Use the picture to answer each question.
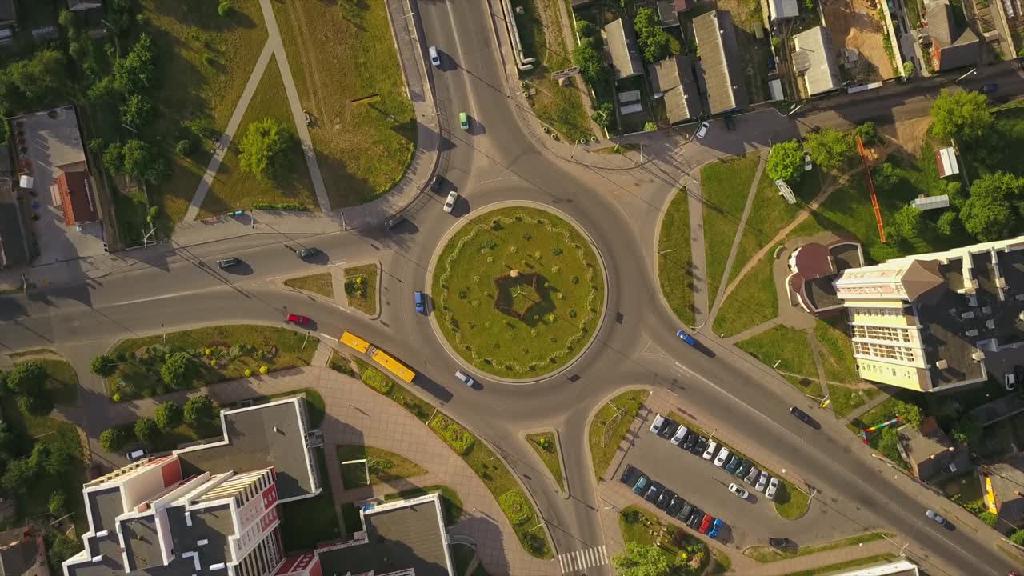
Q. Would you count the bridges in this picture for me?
0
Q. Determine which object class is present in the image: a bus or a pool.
bus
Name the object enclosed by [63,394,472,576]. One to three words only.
building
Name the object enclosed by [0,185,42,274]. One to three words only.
house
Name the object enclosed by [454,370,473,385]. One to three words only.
vehicle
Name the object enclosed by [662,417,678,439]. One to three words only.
car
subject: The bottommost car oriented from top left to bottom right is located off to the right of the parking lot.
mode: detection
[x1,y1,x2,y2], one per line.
[923,509,946,526]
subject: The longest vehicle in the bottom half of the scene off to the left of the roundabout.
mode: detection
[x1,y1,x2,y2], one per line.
[336,333,420,385]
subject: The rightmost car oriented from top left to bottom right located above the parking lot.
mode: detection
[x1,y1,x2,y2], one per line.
[789,407,810,423]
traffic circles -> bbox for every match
[425,200,607,382]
